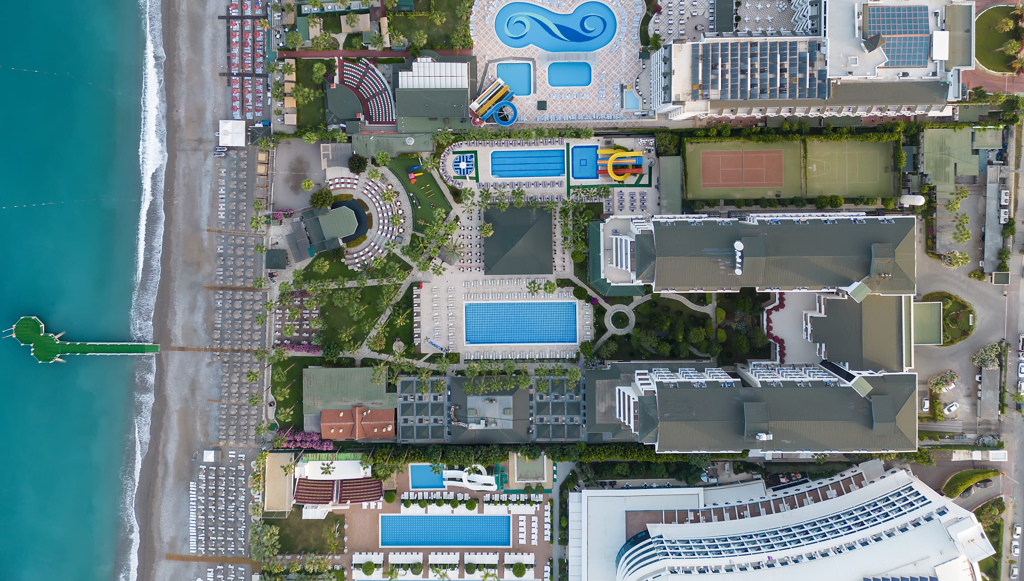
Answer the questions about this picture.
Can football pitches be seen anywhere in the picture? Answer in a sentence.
No, the frame has no football pitch in it.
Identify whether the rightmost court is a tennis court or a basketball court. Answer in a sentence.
In the photo, the rightmost court shows up as a basketball court.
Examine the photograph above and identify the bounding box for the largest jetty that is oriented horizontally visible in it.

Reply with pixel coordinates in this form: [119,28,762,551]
[2,316,162,363]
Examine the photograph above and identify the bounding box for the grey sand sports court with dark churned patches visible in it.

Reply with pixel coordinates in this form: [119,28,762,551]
[272,138,327,210]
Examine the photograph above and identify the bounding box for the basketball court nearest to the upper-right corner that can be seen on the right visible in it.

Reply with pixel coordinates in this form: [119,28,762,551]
[807,141,894,198]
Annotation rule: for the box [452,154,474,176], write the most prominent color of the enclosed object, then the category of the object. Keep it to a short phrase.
blue swimming pool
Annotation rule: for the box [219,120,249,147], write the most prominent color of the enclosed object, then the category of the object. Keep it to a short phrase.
white tent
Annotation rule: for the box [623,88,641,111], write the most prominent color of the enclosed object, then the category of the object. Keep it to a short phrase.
blue swimming pool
